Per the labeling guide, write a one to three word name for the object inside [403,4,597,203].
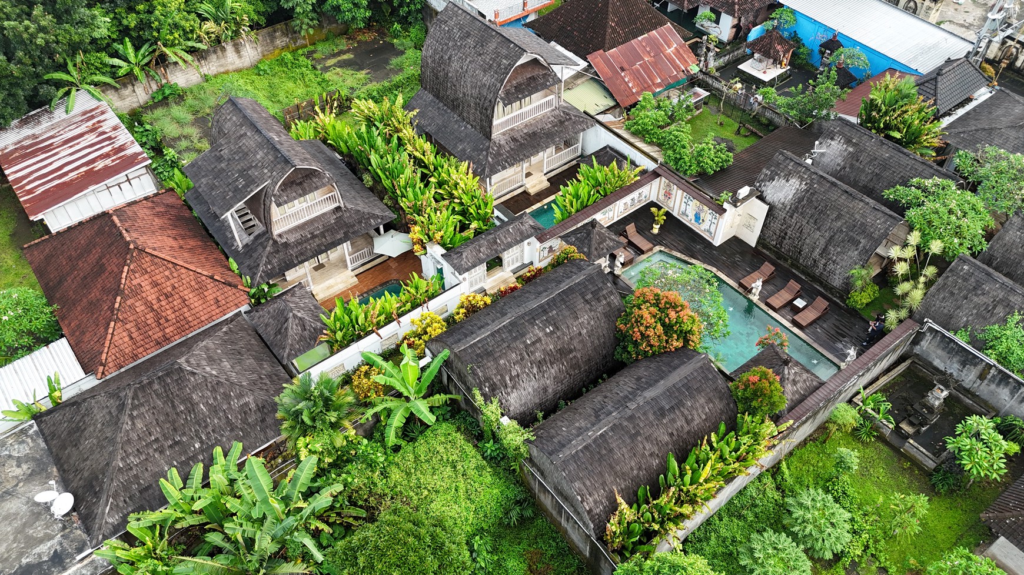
house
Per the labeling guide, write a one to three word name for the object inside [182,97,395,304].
house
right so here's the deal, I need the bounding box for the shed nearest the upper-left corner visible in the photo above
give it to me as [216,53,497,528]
[0,84,159,235]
